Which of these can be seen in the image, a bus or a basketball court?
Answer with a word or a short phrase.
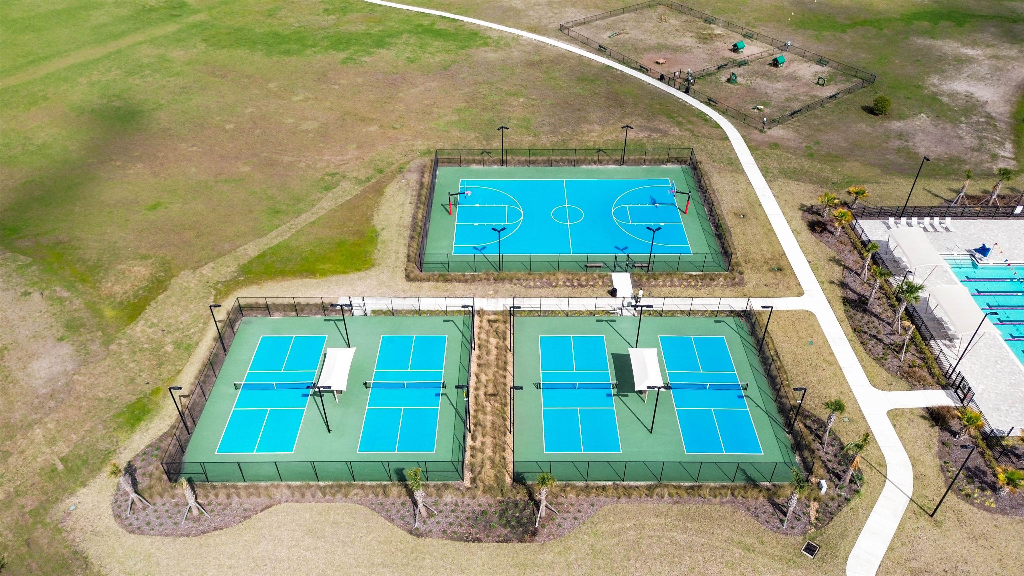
basketball court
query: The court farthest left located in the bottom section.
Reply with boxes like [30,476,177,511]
[215,335,327,453]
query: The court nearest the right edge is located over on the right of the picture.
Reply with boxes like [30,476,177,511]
[659,335,763,453]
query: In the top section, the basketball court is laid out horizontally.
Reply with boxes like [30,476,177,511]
[421,166,729,273]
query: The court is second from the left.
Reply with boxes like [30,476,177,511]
[357,335,447,453]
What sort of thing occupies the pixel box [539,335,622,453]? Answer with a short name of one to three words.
sports court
